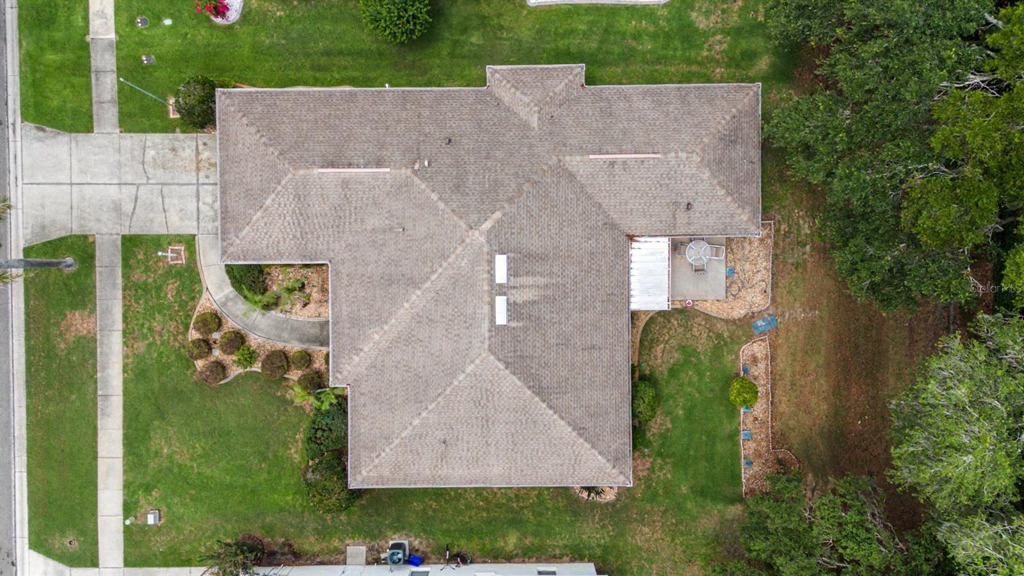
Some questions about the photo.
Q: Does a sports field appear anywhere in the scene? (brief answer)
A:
No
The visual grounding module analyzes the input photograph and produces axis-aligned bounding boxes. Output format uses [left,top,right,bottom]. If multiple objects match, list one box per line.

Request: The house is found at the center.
[216,64,763,490]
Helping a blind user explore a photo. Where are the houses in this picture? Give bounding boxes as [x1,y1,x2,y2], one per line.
[211,562,596,576]
[216,64,763,490]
